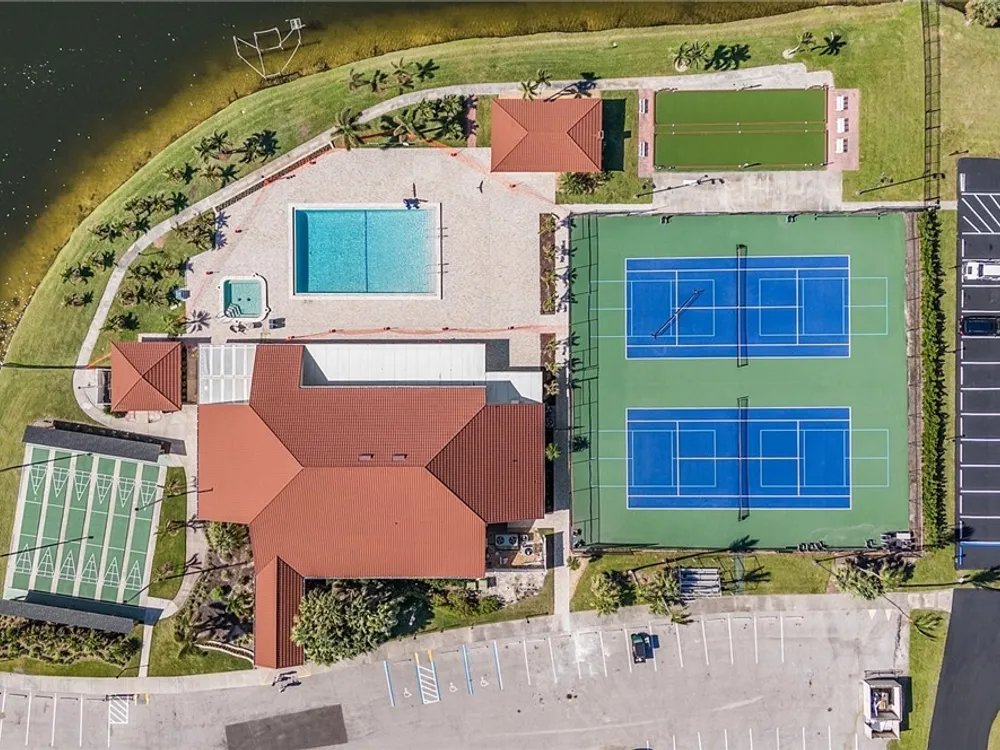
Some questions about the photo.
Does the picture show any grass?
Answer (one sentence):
Yes, there's grass in this view.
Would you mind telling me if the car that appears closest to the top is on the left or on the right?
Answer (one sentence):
The car that appears closest to the top sits on the right side.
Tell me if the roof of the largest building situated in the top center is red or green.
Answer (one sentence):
From above, the roof of the largest building situated in the top center appears red.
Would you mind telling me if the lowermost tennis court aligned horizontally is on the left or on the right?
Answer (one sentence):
It is on the right.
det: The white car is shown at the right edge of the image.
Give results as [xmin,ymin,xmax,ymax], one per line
[960,259,1000,281]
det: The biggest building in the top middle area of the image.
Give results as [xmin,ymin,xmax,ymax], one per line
[490,97,603,173]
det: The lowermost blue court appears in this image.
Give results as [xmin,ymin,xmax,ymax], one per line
[598,407,889,510]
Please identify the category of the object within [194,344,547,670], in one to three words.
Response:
building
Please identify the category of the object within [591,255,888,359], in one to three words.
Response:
tennis court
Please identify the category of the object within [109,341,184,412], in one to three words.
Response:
building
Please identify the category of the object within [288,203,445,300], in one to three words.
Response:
swimming pool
